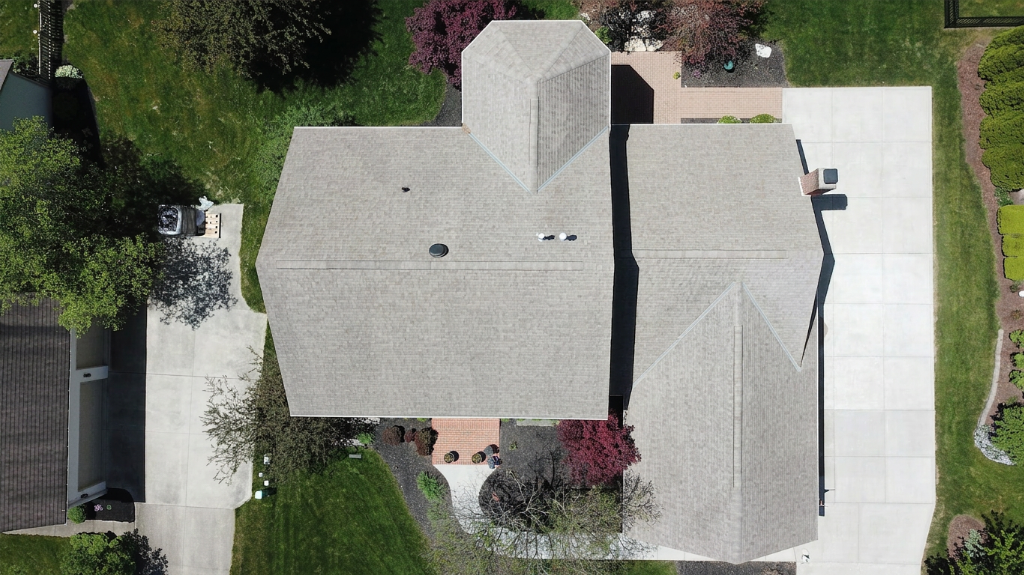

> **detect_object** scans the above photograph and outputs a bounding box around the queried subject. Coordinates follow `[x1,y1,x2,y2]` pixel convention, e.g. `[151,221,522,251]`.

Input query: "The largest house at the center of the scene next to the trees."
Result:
[257,17,839,566]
